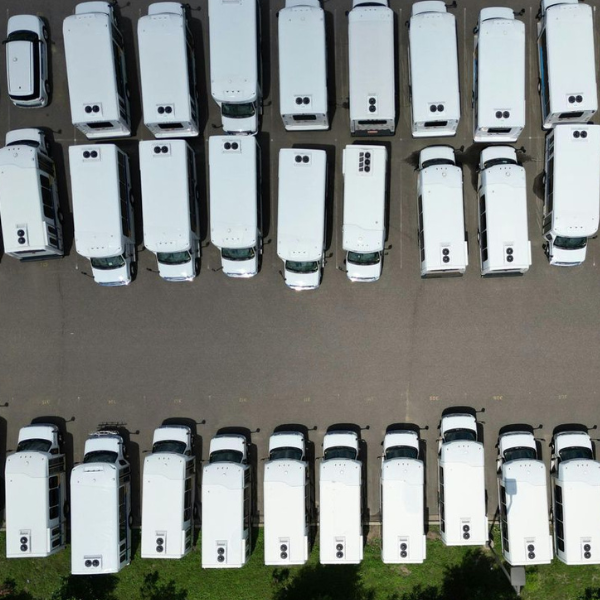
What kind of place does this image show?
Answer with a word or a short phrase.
parking lot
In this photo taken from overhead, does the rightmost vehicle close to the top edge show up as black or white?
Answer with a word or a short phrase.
white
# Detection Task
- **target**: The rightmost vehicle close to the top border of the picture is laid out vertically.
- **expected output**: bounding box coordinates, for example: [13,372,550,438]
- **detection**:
[536,0,597,133]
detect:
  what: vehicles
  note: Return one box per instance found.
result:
[543,124,600,270]
[70,143,137,288]
[7,423,70,558]
[202,432,255,568]
[210,0,266,137]
[210,135,266,280]
[277,0,331,131]
[494,428,554,565]
[337,145,391,284]
[141,139,202,283]
[405,0,459,138]
[66,2,134,141]
[536,0,597,133]
[548,429,600,565]
[2,16,52,109]
[315,428,369,563]
[72,427,134,574]
[139,2,202,140]
[345,0,398,137]
[275,148,330,292]
[376,427,430,562]
[434,409,489,545]
[261,429,315,564]
[412,145,467,283]
[471,8,525,145]
[142,423,198,559]
[0,127,66,264]
[472,145,528,283]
